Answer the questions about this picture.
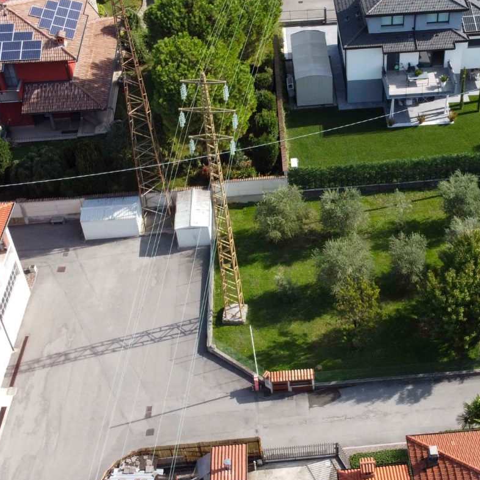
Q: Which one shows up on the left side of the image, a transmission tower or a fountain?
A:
transmission tower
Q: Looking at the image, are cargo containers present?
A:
No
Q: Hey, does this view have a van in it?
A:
No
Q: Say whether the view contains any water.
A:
No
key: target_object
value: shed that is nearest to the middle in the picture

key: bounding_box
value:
[167,182,212,250]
